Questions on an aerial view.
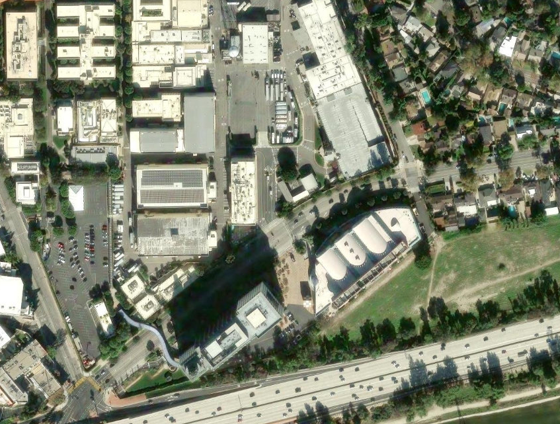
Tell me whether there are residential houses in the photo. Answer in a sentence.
Yes, the photo shows a residential house.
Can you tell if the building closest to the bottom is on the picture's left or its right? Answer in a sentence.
The building closest to the bottom sits on the left side.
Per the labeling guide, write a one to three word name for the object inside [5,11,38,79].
building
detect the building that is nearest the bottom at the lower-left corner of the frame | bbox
[0,337,62,407]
